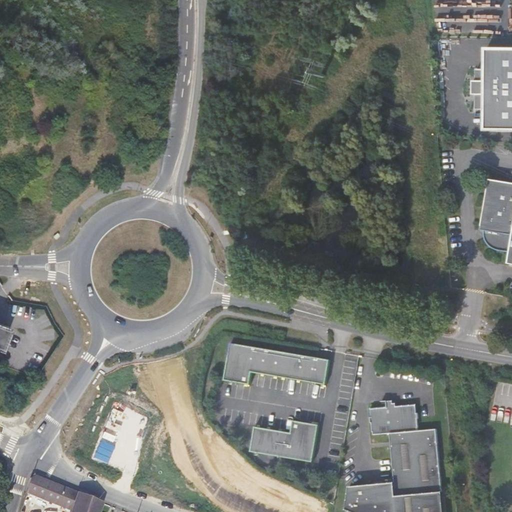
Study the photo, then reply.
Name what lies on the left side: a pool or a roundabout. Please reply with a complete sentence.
There is a roundabout on the left side.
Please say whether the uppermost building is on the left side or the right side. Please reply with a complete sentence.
The uppermost building appears in the right half of the scene.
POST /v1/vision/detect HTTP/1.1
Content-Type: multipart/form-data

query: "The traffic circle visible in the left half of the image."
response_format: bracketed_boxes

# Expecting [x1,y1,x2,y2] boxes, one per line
[69,196,216,342]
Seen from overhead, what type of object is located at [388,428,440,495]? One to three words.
building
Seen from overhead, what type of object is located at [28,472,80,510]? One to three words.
house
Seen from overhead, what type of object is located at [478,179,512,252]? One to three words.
building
